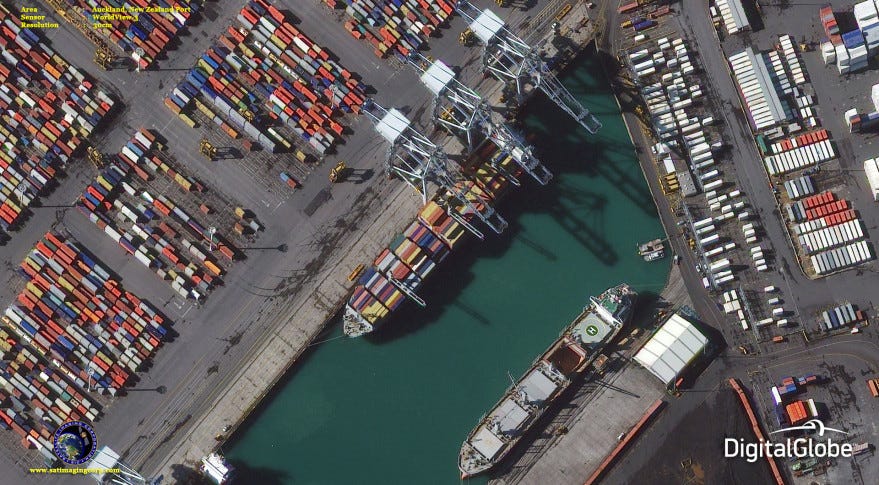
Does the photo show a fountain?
No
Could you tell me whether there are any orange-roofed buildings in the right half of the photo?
No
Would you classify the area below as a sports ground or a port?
port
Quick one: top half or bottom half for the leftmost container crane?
bottom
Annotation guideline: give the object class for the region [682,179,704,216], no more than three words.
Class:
shed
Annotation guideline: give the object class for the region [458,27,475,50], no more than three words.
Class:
work vehicle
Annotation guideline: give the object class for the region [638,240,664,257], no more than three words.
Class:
ship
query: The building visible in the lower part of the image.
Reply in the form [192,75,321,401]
[637,313,711,391]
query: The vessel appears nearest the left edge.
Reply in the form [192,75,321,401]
[188,450,236,485]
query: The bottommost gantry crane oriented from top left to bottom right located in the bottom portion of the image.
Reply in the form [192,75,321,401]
[64,433,142,485]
